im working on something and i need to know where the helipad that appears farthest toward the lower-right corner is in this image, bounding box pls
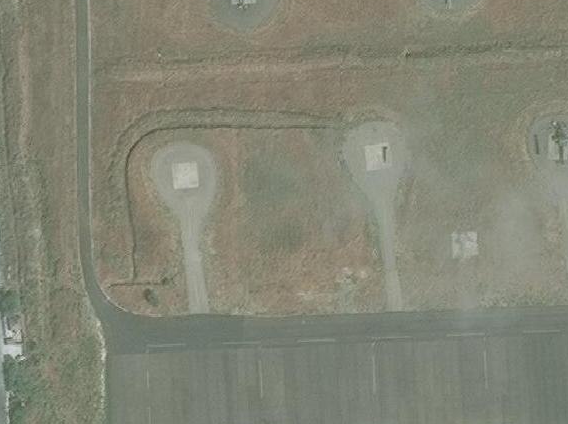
[452,231,478,259]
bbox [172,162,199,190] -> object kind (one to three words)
helipad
